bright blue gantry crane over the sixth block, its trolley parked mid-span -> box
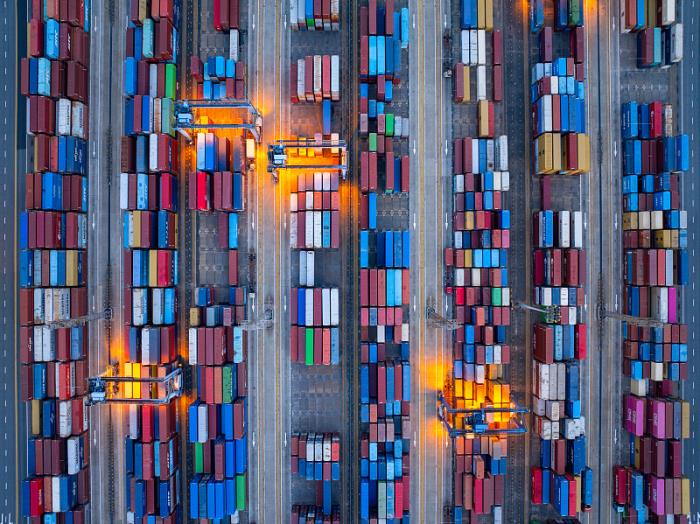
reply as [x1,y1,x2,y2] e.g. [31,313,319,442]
[436,385,533,435]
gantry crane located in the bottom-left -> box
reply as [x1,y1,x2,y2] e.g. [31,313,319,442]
[80,357,187,404]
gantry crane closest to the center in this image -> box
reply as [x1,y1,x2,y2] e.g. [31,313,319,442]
[265,140,349,187]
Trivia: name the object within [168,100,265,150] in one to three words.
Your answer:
container crane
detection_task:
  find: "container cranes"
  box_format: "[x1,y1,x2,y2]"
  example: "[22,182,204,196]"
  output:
[436,385,533,435]
[168,100,265,150]
[265,140,349,187]
[80,357,187,404]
